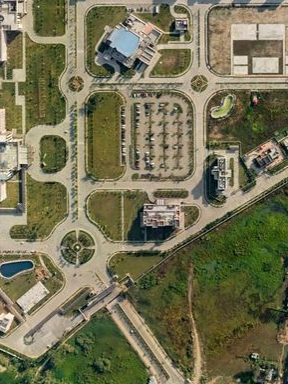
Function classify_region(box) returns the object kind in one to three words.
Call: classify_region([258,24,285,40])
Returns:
sports court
